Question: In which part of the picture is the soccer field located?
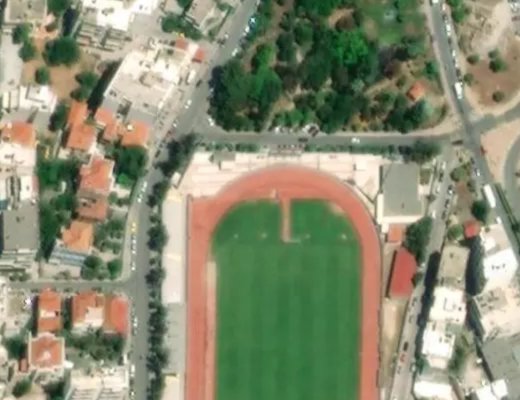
bottom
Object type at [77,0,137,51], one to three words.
building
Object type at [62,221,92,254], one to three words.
house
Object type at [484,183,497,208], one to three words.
vehicle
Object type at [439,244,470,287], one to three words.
building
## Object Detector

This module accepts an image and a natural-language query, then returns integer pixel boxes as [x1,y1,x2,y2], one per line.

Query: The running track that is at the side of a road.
[188,168,381,400]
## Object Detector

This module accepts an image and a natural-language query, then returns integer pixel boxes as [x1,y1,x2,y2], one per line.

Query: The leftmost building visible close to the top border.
[5,0,47,29]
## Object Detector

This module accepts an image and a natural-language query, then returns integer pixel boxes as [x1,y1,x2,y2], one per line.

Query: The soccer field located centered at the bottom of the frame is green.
[213,201,362,400]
